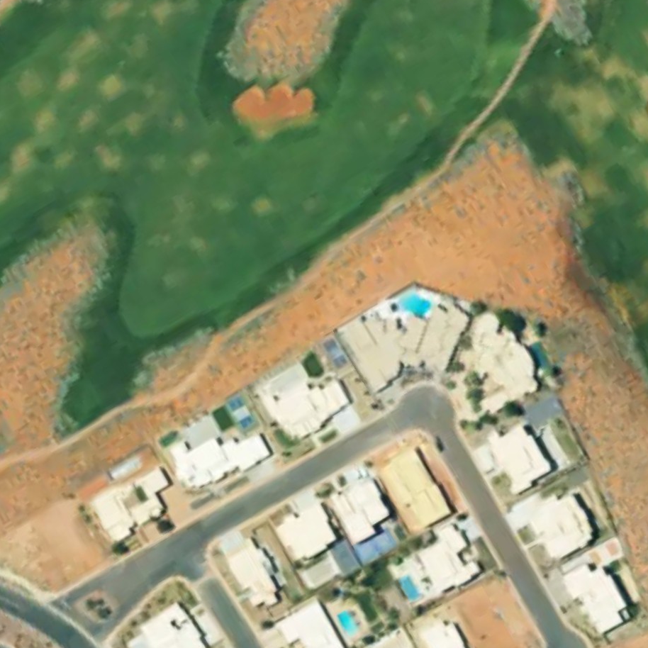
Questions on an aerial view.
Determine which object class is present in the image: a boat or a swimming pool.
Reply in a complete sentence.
I can see a swimming pool in this picture.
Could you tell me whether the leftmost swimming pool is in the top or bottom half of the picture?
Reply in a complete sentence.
Seen from above, the leftmost swimming pool lies in the bottom half of the view.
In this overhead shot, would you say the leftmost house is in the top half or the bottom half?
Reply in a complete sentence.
The leftmost house sits in the bottom half of the picture.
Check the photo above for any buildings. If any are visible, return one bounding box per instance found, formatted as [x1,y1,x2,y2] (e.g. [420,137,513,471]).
[227,548,281,613]
[472,313,537,412]
[263,373,352,442]
[167,426,271,490]
[388,450,450,528]
[416,527,481,594]
[93,469,171,537]
[370,632,410,648]
[337,301,467,393]
[562,565,626,632]
[420,621,467,648]
[328,475,391,545]
[146,606,199,648]
[278,603,341,648]
[276,505,338,562]
[484,425,546,494]
[528,487,595,562]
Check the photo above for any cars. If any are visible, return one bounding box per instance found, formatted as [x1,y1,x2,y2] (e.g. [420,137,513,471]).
[434,436,443,451]
[360,465,368,476]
